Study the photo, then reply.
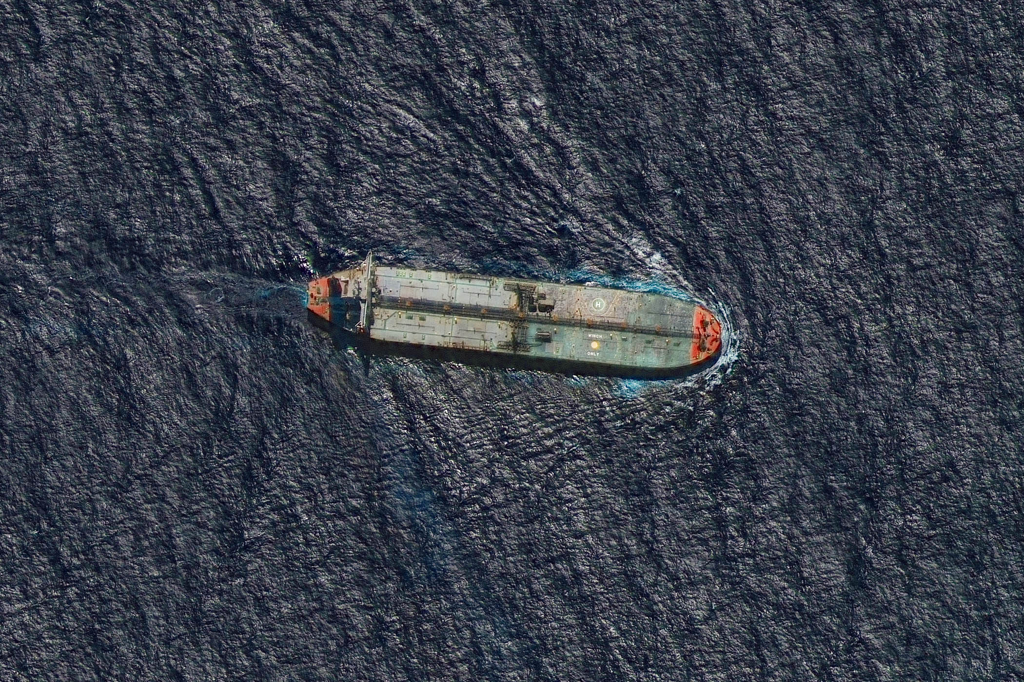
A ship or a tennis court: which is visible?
ship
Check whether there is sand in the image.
No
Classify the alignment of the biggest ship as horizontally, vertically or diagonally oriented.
horizontally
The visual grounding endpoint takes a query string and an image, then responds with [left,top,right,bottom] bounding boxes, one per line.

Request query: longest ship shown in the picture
[307,252,722,374]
